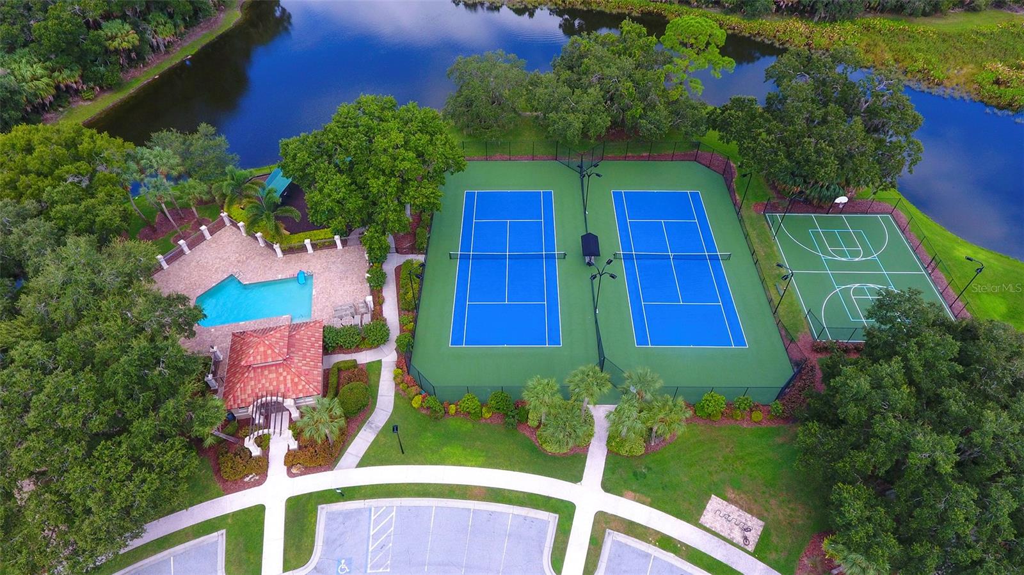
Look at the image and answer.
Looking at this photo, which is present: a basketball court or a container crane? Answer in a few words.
basketball court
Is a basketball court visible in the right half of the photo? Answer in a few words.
Yes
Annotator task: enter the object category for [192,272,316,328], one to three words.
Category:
swimming pool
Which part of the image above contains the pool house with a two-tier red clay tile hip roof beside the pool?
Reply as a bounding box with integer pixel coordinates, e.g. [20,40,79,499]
[224,317,325,421]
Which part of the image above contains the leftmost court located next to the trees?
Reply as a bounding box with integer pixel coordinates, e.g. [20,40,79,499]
[409,160,605,403]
